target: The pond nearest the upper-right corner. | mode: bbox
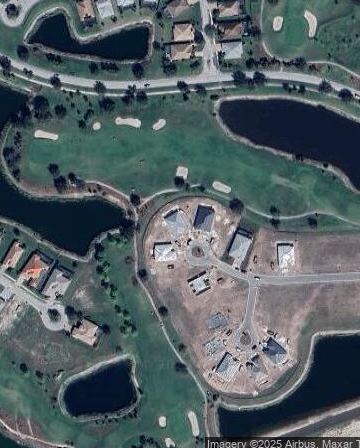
[216,96,360,191]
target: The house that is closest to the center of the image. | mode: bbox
[160,207,186,237]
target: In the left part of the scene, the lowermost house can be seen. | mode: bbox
[75,318,106,346]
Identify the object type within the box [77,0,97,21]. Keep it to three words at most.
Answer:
house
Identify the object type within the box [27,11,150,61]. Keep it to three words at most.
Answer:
pond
